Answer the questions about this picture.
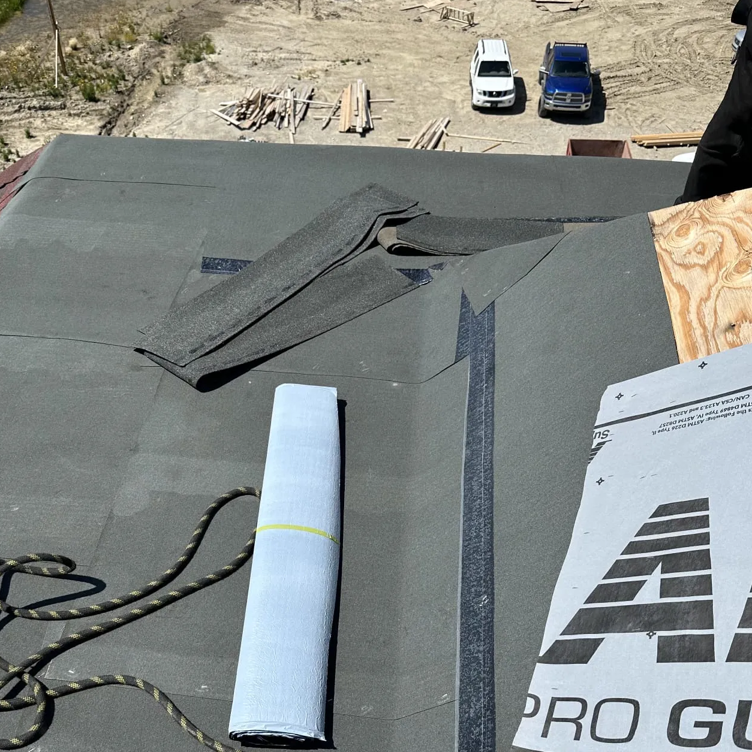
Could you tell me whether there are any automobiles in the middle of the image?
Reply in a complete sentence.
No, I see no automobile in the middle of the image.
